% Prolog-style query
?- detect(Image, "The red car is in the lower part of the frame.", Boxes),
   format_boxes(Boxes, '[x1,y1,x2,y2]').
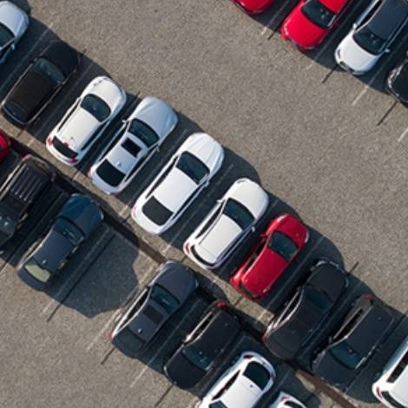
[230,214,309,302]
